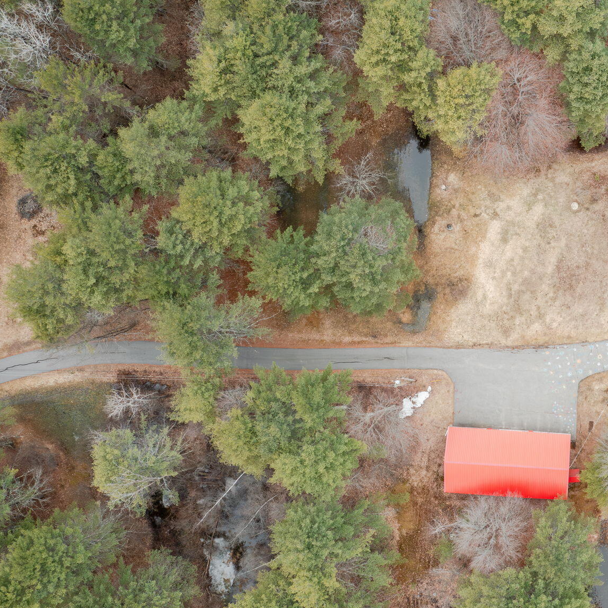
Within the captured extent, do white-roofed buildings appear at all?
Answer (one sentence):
No, this view has no white-roofed building in it.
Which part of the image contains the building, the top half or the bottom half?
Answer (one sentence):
The building is in the bottom half of the image.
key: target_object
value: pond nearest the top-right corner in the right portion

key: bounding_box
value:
[393,120,435,234]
